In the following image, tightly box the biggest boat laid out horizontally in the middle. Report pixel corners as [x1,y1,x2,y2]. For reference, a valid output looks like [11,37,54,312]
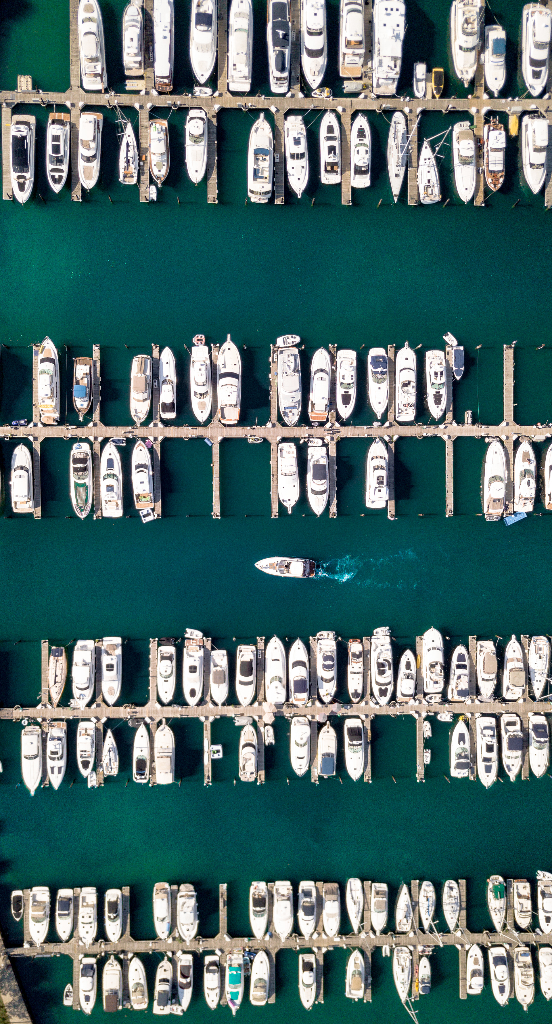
[255,556,316,578]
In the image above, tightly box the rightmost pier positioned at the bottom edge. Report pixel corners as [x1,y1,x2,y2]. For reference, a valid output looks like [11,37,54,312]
[57,878,552,1009]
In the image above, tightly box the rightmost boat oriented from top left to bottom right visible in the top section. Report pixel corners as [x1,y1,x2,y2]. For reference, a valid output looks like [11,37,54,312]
[442,330,457,346]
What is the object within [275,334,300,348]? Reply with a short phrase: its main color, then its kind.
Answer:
white boat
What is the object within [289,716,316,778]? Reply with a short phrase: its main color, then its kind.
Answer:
white boat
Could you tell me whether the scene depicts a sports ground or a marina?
marina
